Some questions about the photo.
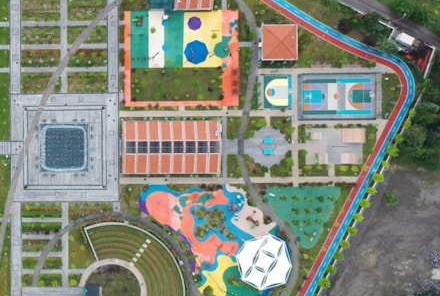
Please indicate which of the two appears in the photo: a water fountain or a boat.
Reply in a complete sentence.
It is a water fountain that can be seen here.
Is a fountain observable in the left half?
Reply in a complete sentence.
Yes, looking in the left half, one can make out a fountain.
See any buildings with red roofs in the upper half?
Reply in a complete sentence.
Yes, I can see a building with a red roof in the upper half.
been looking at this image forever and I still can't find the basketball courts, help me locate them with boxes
[263,75,292,109]
[299,73,379,119]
